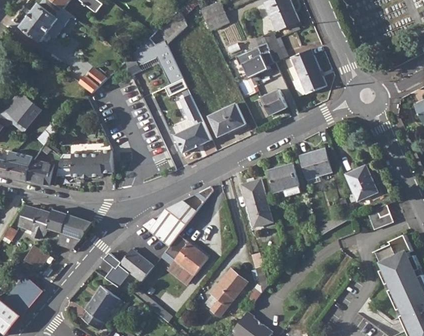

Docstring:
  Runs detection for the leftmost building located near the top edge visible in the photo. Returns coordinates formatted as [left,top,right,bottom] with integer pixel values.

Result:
[18,2,56,41]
